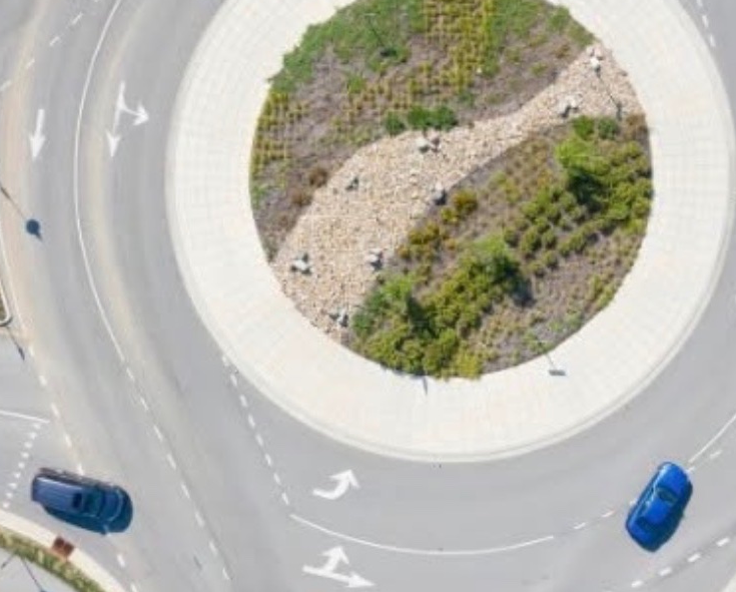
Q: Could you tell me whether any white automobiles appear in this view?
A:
No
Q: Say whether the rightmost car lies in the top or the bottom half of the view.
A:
bottom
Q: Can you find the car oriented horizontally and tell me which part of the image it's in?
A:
bottom left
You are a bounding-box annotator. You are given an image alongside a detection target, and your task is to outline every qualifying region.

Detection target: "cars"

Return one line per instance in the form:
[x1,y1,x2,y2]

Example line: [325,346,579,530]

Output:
[33,472,130,528]
[627,462,694,554]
